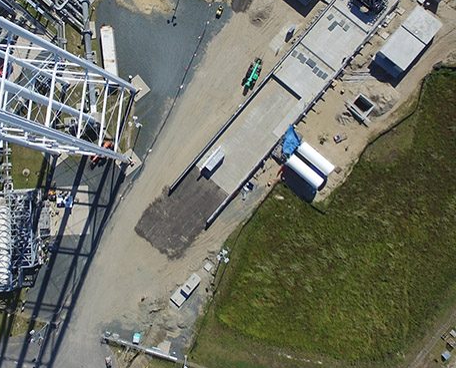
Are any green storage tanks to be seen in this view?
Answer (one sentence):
No, I can see no green storage tank in this picture.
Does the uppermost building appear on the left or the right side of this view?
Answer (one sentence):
You can find the uppermost building on the right side of the picture.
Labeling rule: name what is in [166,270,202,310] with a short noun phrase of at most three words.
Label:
trailer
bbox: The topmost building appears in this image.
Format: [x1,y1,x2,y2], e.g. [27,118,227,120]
[396,4,441,43]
